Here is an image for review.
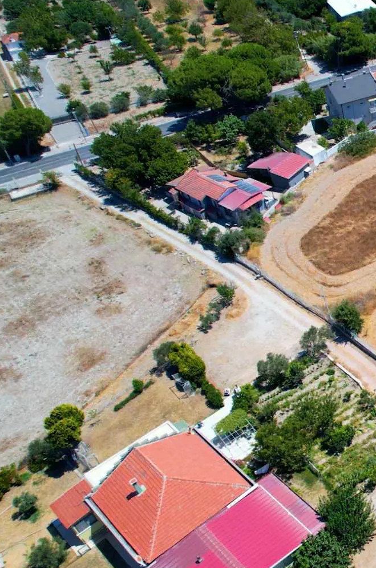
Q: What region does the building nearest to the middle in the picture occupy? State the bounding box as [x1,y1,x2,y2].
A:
[171,166,272,227]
